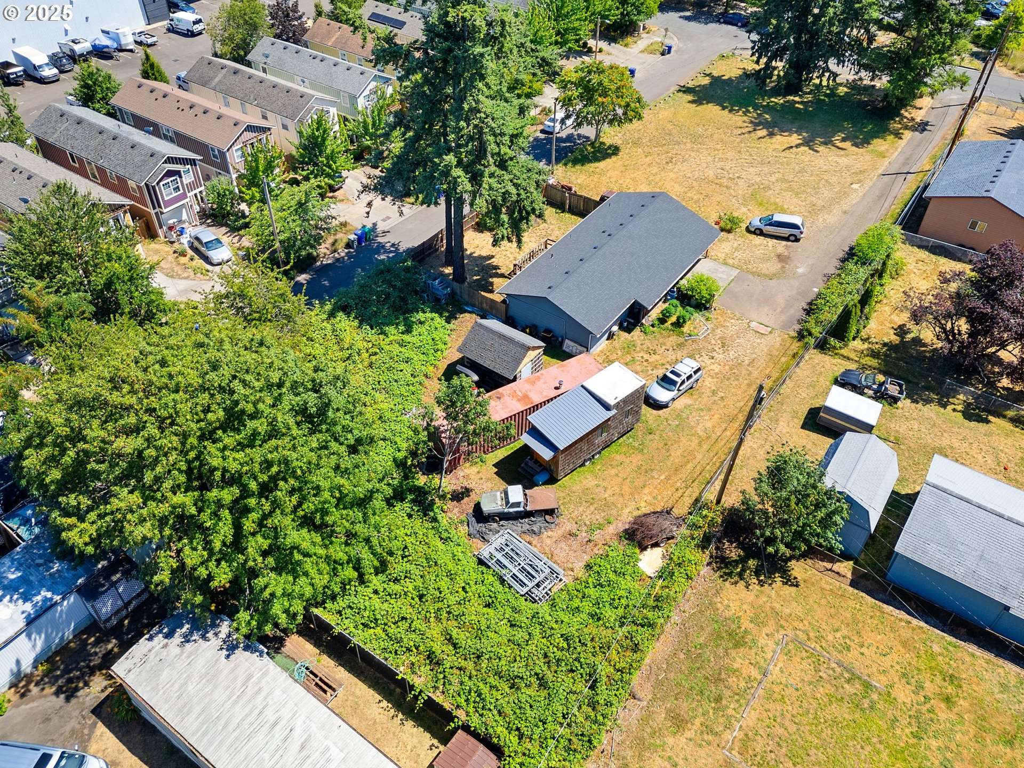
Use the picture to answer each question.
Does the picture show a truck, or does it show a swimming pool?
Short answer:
truck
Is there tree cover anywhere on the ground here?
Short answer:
Yes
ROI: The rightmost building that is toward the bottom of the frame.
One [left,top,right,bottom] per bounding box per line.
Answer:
[881,445,1024,644]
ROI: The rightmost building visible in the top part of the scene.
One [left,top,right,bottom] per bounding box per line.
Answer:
[919,141,1024,256]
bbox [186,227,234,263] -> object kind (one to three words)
car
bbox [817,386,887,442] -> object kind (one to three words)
trailer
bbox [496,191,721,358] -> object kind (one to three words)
house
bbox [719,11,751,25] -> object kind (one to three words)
car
